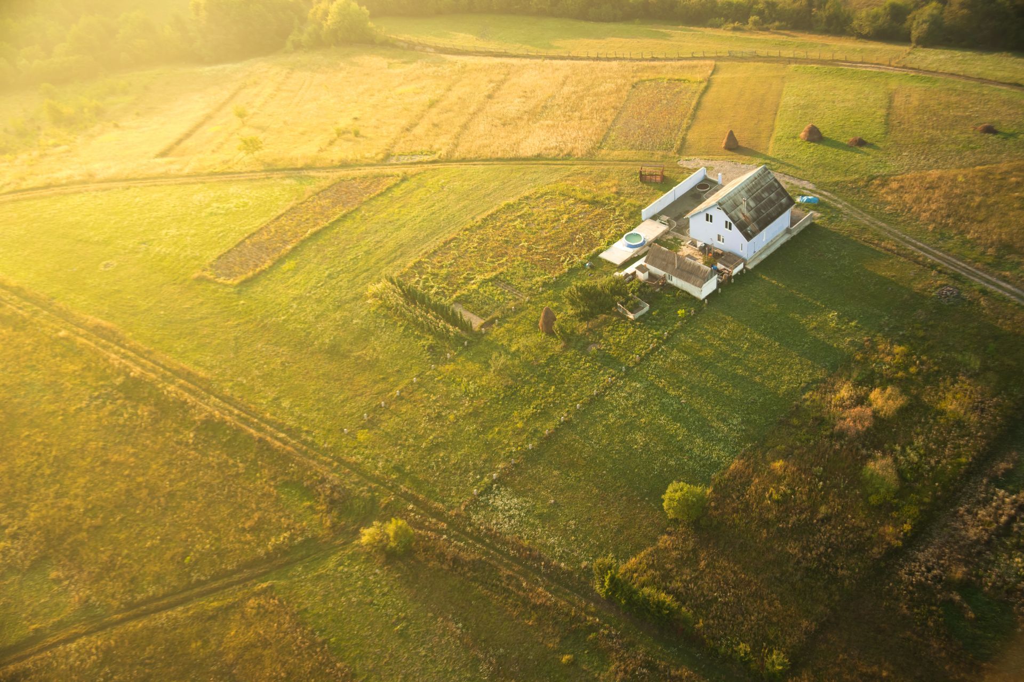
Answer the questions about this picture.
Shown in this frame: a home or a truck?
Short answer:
home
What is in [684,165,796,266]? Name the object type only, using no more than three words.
house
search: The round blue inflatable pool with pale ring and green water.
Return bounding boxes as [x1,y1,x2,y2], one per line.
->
[619,232,646,251]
